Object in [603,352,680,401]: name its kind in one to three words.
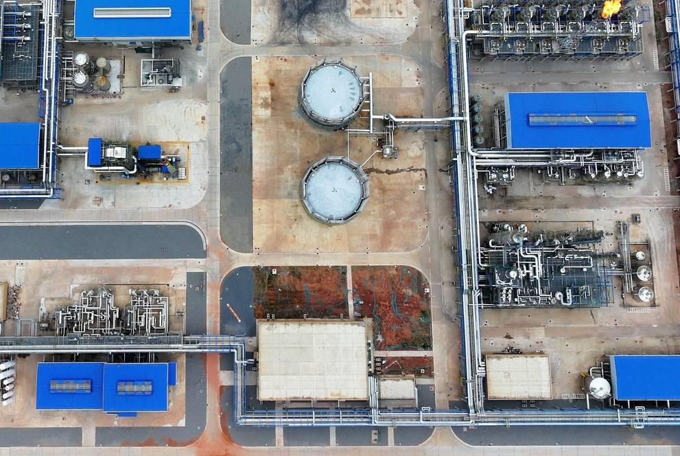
shed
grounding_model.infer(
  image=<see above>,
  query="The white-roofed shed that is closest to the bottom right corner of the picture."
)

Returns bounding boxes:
[481,352,552,399]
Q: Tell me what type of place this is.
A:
industrial area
